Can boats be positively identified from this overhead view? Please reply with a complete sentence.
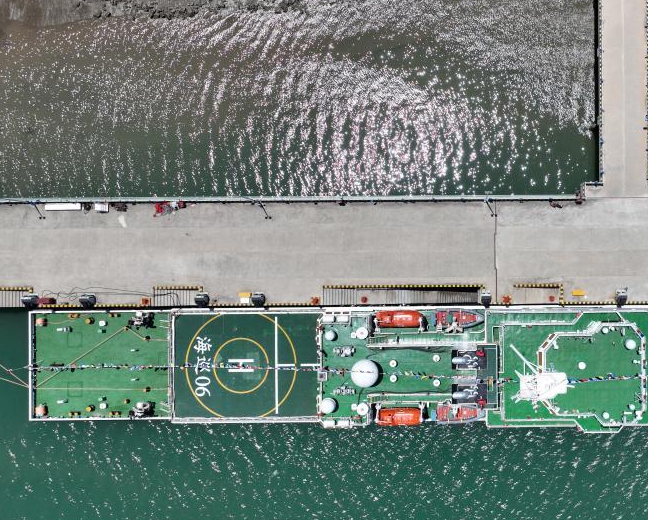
Yes, there is a boat in the image.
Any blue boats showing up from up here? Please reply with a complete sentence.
No, I find no blue boat anywhere in the image.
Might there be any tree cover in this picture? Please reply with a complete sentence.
No, there's no tree cover in this view.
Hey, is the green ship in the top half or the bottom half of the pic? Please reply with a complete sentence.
The bottom half of the photo is where the green ship is.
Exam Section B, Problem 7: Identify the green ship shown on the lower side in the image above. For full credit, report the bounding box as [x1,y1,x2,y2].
[9,304,648,433]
